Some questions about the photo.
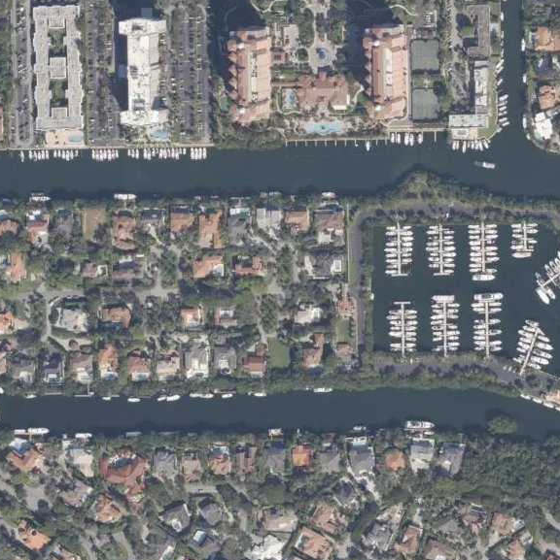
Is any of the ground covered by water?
Yes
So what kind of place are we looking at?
residential area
